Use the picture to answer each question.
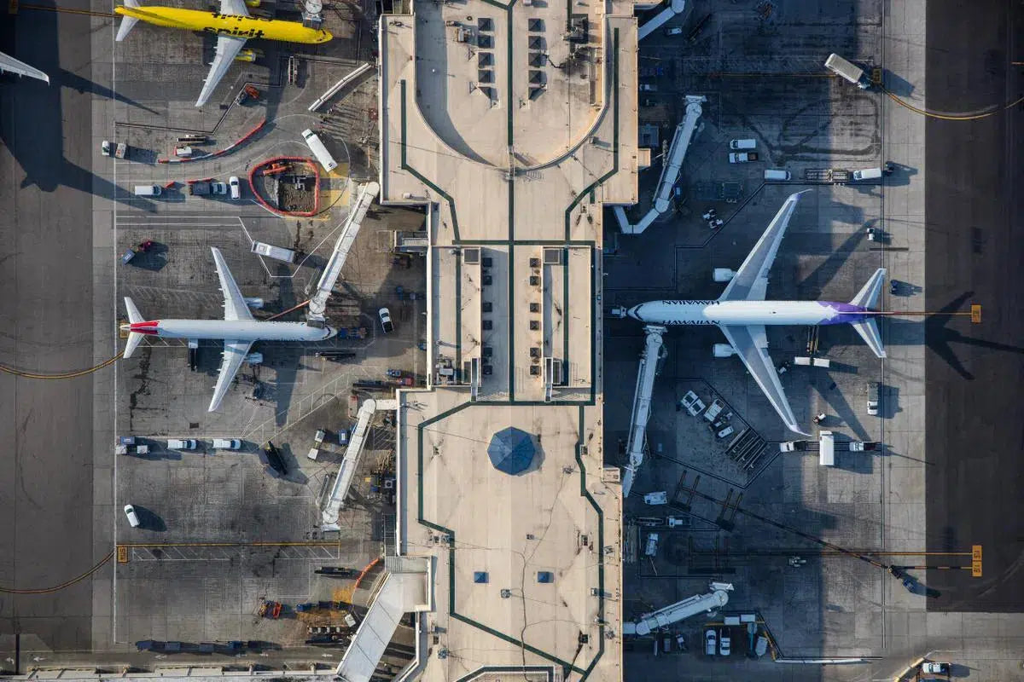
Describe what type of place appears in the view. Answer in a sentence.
The picture captures an airport.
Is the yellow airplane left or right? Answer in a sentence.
It is on the left.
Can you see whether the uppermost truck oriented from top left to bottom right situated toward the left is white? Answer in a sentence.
Yes, the uppermost truck oriented from top left to bottom right situated toward the left appears white.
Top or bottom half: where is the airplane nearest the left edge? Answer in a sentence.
The airplane nearest the left edge is in the top half of the image.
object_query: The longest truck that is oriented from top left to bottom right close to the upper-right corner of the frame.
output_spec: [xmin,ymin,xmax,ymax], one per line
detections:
[823,55,867,92]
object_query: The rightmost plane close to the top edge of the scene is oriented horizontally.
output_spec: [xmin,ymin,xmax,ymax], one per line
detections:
[117,0,333,103]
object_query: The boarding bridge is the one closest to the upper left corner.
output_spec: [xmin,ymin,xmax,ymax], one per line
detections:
[304,0,328,32]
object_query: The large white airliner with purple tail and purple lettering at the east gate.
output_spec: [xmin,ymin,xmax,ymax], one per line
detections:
[628,187,892,438]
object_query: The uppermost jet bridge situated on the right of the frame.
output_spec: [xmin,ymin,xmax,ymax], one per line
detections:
[641,0,688,39]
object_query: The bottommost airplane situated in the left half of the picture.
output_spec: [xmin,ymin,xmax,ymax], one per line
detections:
[123,247,337,411]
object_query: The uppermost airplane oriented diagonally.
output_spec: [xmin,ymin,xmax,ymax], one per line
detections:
[0,43,52,87]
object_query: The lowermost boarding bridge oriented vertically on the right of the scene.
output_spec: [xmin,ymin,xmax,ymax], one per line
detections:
[622,323,665,494]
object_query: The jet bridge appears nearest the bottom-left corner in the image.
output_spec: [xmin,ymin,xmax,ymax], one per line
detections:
[321,399,394,532]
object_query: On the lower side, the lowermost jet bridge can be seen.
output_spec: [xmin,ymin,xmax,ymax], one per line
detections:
[625,578,730,637]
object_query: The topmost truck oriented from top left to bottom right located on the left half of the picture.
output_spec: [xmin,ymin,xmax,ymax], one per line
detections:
[301,129,341,172]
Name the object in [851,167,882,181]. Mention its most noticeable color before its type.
white vehicle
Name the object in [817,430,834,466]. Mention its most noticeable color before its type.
white vehicle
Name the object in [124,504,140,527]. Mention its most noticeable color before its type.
white car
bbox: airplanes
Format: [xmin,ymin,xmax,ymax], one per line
[117,0,333,103]
[628,187,892,438]
[0,43,52,87]
[123,247,337,411]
